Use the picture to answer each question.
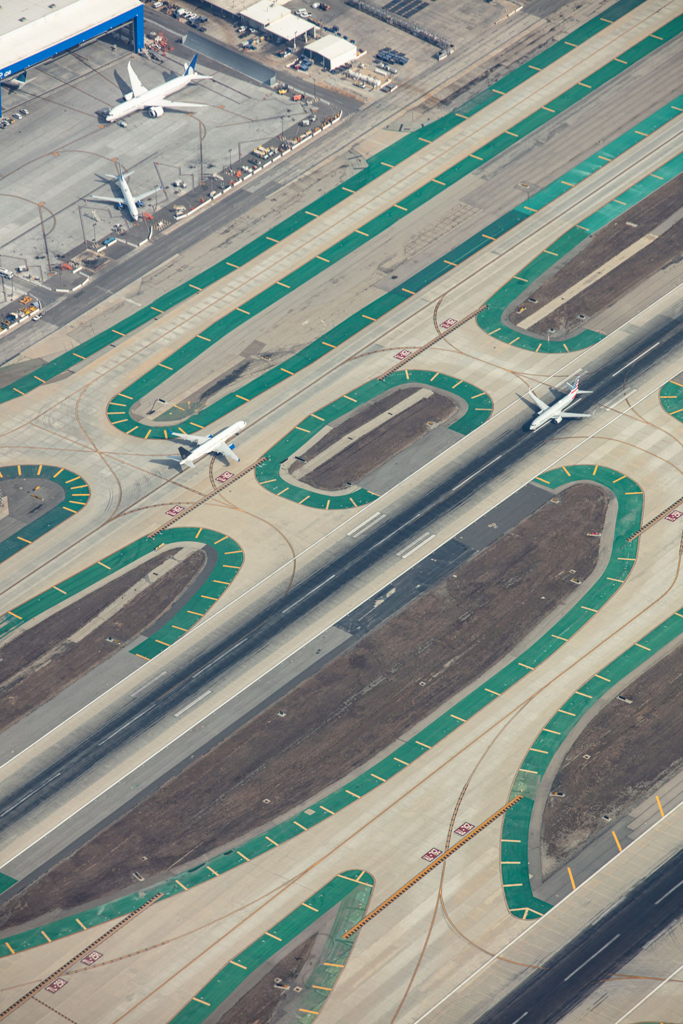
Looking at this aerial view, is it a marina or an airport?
airport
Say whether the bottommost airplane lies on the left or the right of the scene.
left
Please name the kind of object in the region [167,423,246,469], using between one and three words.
airplane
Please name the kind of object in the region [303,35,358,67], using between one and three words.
shed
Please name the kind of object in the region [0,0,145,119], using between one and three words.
hangar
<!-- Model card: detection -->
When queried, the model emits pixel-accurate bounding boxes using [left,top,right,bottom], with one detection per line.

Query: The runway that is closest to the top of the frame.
[0,284,683,866]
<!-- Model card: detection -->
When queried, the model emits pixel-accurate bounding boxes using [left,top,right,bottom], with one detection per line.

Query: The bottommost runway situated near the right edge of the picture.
[417,810,683,1024]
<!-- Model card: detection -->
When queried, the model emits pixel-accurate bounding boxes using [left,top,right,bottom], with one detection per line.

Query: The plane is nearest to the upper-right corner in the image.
[528,371,594,430]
